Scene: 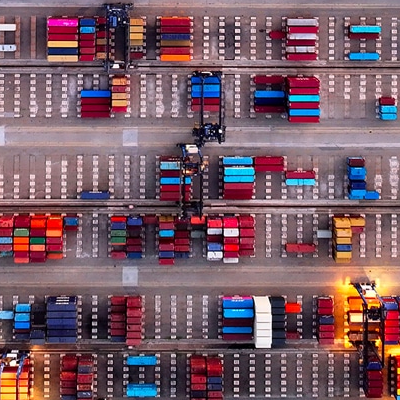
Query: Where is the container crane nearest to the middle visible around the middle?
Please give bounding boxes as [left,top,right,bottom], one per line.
[171,140,209,220]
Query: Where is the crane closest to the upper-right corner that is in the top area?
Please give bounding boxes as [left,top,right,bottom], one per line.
[188,65,226,143]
